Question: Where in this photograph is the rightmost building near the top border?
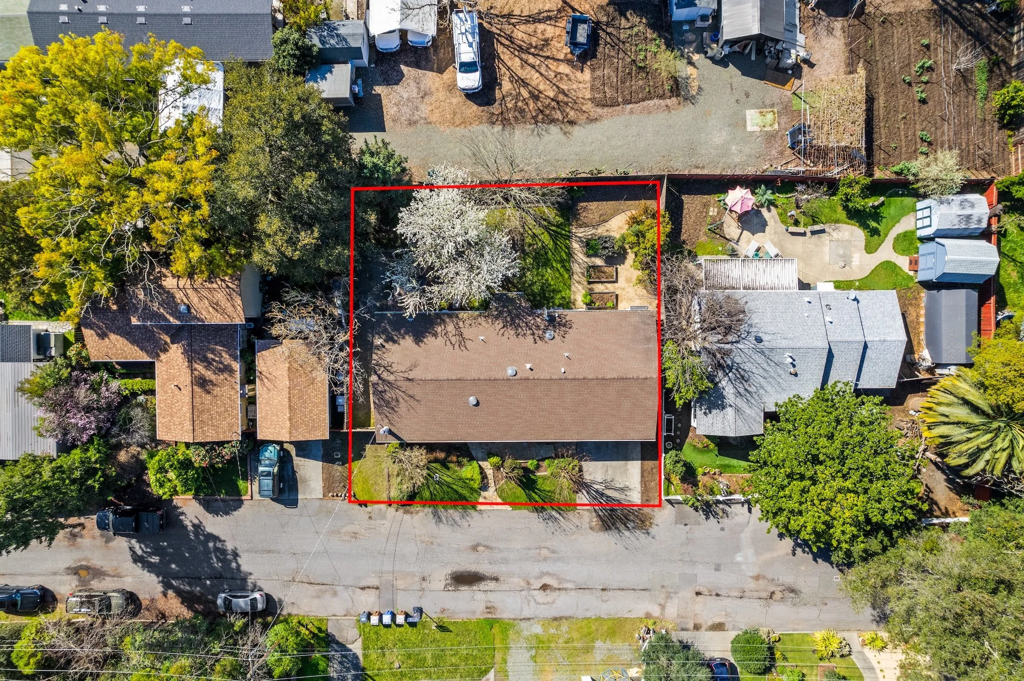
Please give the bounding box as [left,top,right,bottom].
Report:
[717,0,805,53]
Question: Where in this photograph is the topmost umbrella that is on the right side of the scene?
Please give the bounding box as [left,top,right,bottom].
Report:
[703,184,755,232]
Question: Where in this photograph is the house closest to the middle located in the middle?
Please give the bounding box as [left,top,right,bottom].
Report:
[373,292,660,442]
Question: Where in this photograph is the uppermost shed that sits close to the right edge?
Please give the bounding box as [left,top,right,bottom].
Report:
[916,196,991,241]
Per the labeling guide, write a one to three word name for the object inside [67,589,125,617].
car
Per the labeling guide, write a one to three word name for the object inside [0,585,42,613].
car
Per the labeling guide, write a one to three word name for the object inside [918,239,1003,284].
shed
